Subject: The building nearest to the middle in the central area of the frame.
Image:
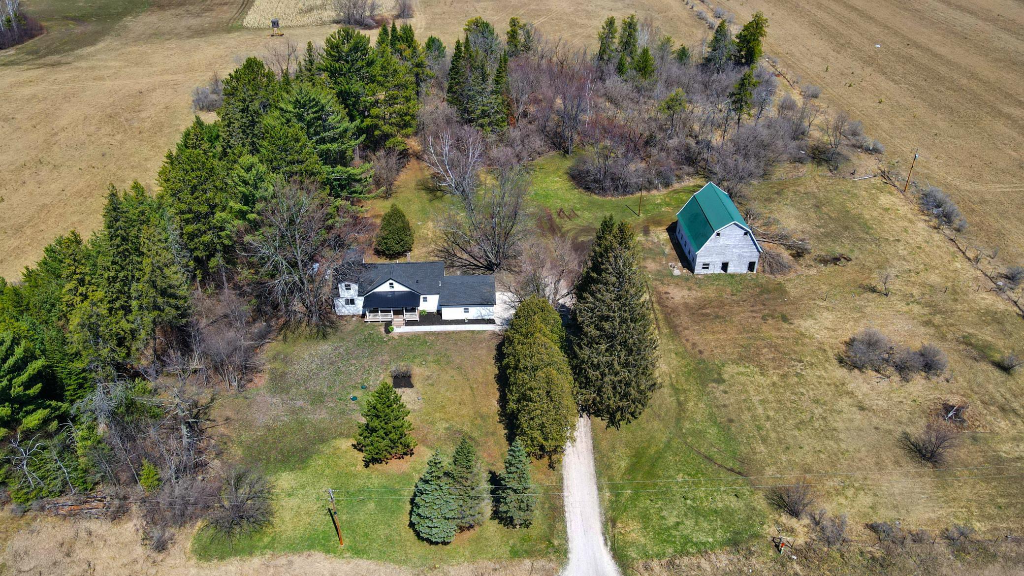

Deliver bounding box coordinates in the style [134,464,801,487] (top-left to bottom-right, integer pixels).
[327,244,497,330]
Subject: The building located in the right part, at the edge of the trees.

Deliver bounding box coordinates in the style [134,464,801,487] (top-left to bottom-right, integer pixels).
[673,184,764,274]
